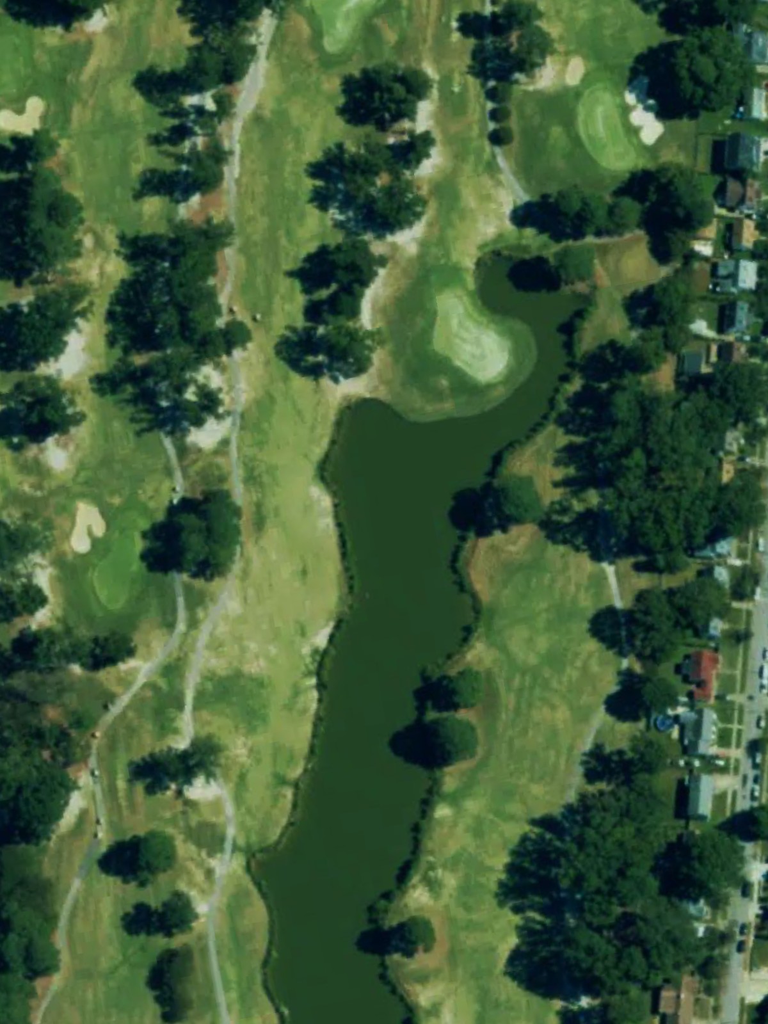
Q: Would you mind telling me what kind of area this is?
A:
golf course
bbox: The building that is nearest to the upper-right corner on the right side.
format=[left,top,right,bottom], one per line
[734,30,768,62]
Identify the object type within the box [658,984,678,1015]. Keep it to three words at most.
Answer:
shed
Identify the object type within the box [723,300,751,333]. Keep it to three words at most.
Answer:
house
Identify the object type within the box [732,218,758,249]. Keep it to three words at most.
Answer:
house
